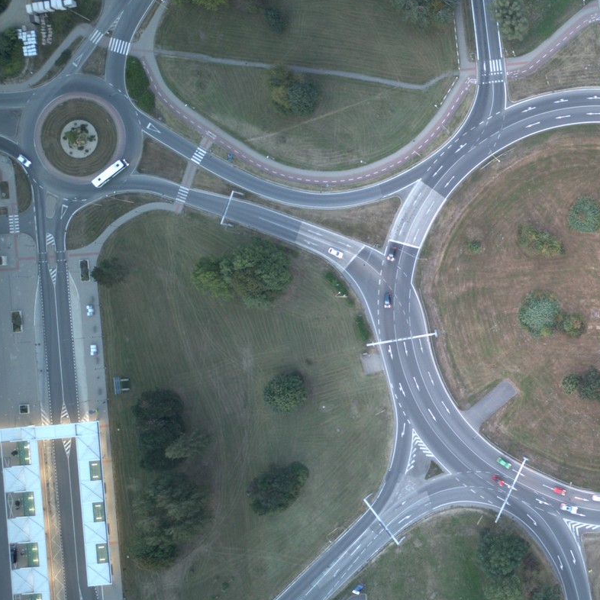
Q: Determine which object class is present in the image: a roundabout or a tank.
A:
roundabout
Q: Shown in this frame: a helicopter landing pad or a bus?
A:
bus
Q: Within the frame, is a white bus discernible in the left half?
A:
Yes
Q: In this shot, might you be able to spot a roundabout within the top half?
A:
Yes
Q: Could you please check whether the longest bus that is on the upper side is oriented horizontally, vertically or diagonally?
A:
diagonally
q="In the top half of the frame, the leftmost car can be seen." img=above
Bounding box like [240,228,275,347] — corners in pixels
[16,154,33,167]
